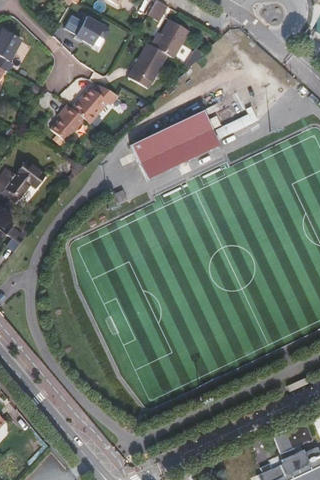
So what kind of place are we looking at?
sports ground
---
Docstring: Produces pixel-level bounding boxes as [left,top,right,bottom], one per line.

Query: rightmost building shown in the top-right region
[216,107,258,140]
